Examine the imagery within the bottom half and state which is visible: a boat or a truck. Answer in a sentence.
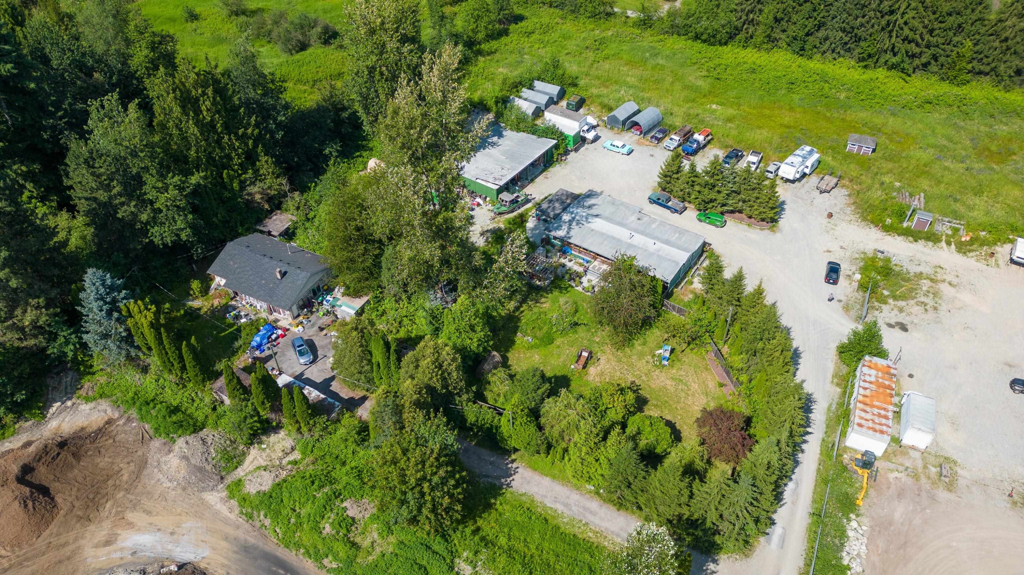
There is a truck within the bottom half.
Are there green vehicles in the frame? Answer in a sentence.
Yes, a green vehicle appears in the view.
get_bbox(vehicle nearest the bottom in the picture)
[850,452,881,503]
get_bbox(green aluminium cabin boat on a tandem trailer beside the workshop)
[492,189,534,216]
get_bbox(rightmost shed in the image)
[911,210,934,231]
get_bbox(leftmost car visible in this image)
[291,336,313,368]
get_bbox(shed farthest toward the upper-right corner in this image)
[845,134,878,158]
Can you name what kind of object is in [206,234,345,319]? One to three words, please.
house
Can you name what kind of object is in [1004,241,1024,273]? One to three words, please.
camper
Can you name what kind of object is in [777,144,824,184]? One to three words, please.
vehicle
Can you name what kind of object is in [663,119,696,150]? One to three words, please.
truck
